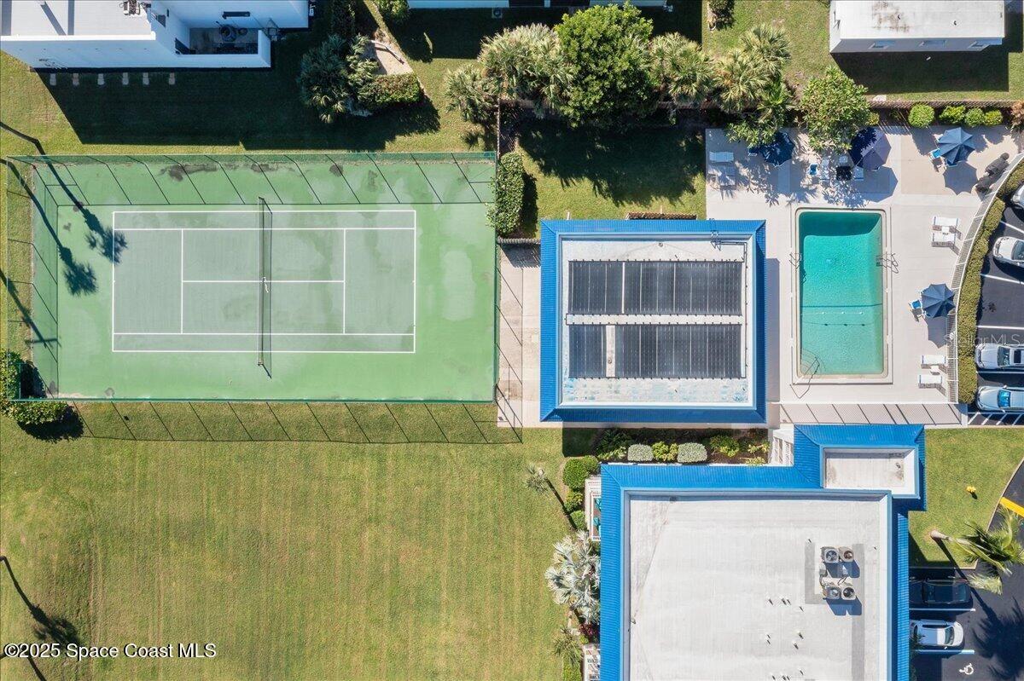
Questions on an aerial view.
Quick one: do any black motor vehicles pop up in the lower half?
Yes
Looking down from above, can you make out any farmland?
No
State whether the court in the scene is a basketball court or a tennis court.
tennis court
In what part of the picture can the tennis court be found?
left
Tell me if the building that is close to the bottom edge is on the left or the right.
right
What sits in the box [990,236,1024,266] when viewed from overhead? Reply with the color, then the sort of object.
white car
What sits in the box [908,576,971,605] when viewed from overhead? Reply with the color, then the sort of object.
black car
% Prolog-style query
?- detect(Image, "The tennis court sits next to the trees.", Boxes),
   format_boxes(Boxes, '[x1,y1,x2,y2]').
[32,160,496,401]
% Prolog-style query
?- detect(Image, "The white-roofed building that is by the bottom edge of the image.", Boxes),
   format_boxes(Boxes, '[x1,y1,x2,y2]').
[585,423,927,681]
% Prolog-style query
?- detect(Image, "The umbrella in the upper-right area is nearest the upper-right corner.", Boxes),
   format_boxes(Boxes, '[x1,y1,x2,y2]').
[933,129,969,165]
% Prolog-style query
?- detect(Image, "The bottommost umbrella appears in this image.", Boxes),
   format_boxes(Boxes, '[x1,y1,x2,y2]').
[917,284,951,317]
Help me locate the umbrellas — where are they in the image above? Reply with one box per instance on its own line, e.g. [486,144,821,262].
[753,129,795,171]
[917,284,951,317]
[845,127,892,173]
[933,129,969,165]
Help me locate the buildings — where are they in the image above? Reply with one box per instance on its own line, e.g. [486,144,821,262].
[413,0,667,8]
[830,0,1024,52]
[585,423,927,681]
[0,0,308,67]
[540,219,767,425]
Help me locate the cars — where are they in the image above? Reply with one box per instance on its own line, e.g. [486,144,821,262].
[908,620,962,650]
[908,576,971,605]
[990,236,1024,266]
[973,343,1024,373]
[974,385,1024,414]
